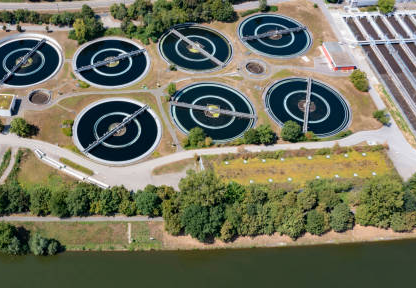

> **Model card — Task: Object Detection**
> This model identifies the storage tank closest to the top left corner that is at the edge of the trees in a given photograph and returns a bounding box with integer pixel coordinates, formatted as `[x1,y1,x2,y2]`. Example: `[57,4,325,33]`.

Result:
[0,33,67,91]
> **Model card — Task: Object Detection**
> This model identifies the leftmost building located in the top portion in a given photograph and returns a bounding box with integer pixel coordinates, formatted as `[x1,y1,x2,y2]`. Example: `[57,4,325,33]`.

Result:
[0,94,16,117]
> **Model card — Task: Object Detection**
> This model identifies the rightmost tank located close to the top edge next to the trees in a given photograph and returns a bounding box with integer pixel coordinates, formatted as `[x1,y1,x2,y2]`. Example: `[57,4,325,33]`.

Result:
[235,11,314,60]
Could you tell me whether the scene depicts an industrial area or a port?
industrial area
